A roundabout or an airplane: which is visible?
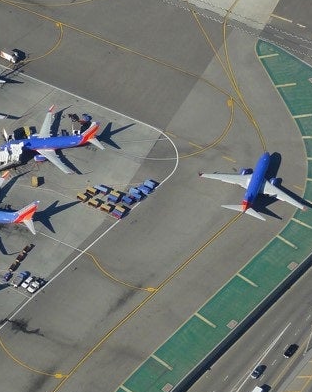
airplane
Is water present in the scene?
No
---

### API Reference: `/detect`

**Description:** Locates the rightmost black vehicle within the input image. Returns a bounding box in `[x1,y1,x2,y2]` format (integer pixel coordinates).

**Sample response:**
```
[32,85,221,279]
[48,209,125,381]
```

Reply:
[284,344,298,358]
